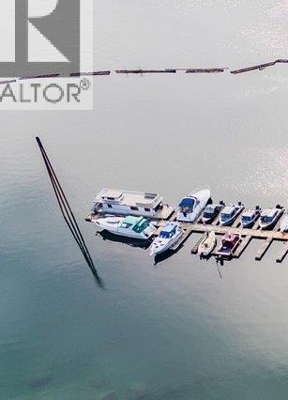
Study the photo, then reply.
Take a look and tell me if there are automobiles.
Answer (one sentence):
No, the frame has no automobile in it.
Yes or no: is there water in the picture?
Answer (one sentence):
Yes, some water is visible.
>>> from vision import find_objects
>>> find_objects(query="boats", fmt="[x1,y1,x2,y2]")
[220,202,245,225]
[200,231,215,257]
[149,226,190,257]
[261,204,286,230]
[92,187,178,220]
[204,201,224,223]
[90,215,162,242]
[218,231,236,259]
[177,186,210,222]
[242,207,264,227]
